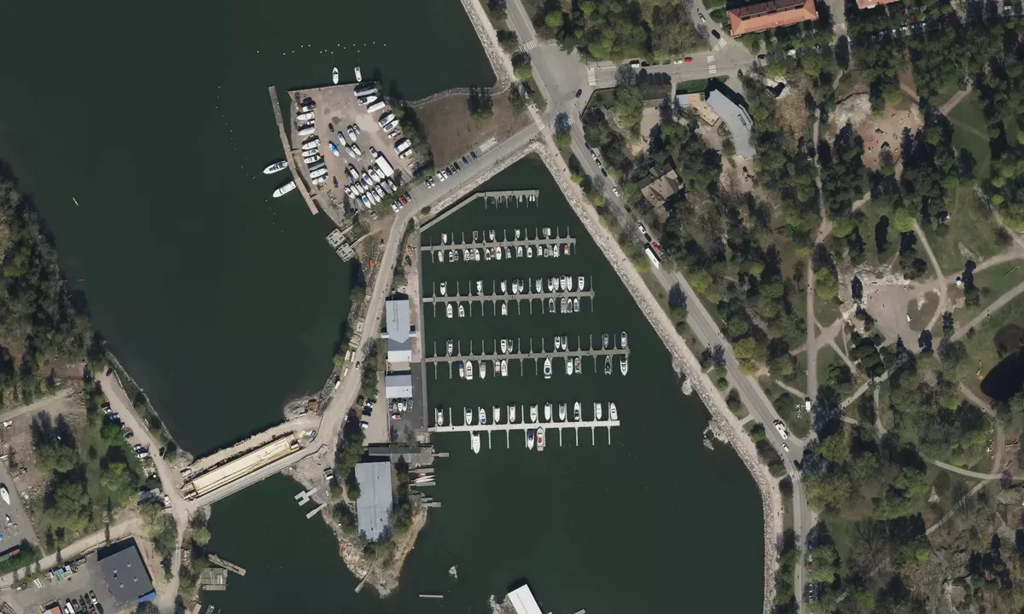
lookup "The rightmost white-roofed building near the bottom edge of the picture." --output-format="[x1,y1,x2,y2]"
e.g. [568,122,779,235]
[508,584,542,614]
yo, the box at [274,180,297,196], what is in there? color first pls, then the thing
white boat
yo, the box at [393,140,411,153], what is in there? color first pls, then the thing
white boat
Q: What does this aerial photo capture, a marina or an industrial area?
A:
marina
